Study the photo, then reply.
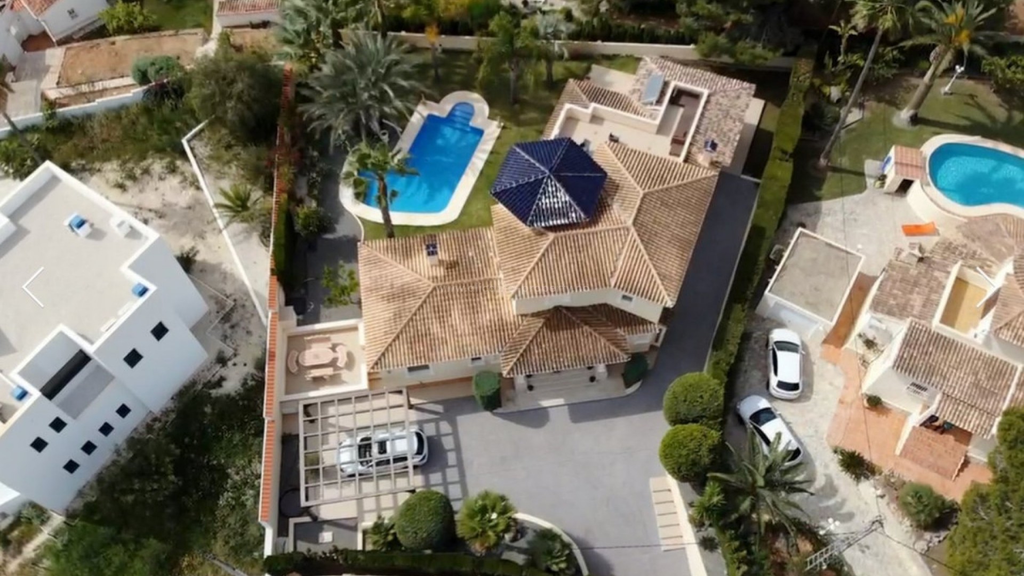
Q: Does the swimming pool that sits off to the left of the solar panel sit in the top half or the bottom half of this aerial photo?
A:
top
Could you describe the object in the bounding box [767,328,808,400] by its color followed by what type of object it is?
white car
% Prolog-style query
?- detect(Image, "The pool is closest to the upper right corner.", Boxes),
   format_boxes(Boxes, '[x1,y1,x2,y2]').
[908,134,1024,235]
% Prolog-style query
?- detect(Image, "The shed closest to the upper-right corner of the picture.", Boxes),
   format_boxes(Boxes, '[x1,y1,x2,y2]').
[882,146,924,196]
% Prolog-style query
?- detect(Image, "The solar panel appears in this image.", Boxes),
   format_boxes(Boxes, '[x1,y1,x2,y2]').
[643,72,663,103]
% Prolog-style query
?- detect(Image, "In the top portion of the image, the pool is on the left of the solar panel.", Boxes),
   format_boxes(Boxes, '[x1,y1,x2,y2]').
[339,90,504,226]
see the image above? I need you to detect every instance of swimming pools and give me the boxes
[908,134,1024,235]
[339,90,504,226]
